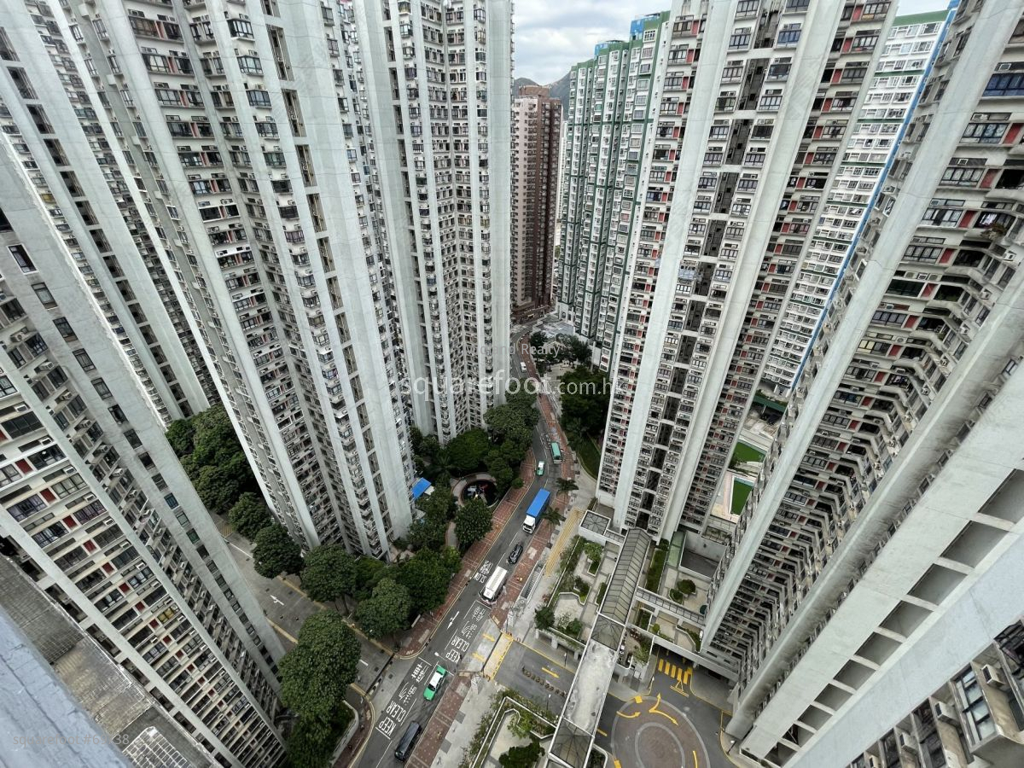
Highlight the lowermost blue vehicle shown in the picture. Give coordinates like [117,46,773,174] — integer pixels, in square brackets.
[525,485,552,528]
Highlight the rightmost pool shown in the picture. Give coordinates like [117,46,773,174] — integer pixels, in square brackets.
[709,465,758,526]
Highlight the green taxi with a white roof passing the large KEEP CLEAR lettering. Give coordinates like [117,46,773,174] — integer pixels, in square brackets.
[424,665,448,700]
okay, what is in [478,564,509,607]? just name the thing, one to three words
bus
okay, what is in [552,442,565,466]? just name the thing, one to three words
vehicle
